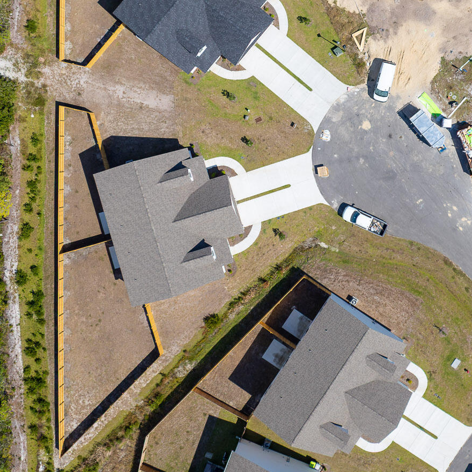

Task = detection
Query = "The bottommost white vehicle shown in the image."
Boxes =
[341,205,388,237]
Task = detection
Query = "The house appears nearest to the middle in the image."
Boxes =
[93,147,246,306]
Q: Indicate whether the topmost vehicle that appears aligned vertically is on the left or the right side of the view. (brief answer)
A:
right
